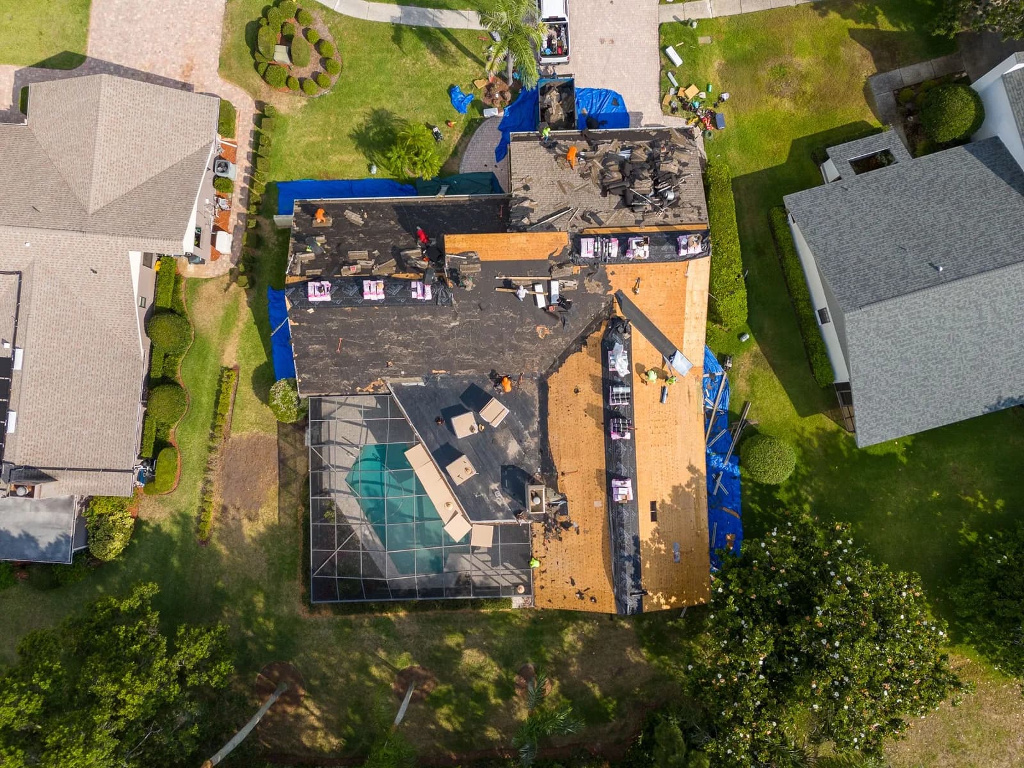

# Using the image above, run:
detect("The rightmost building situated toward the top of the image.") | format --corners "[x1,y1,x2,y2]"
[782,50,1024,448]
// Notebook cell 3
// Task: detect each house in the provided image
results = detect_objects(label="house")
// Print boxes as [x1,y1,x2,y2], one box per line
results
[0,74,227,564]
[285,127,711,614]
[782,50,1024,448]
